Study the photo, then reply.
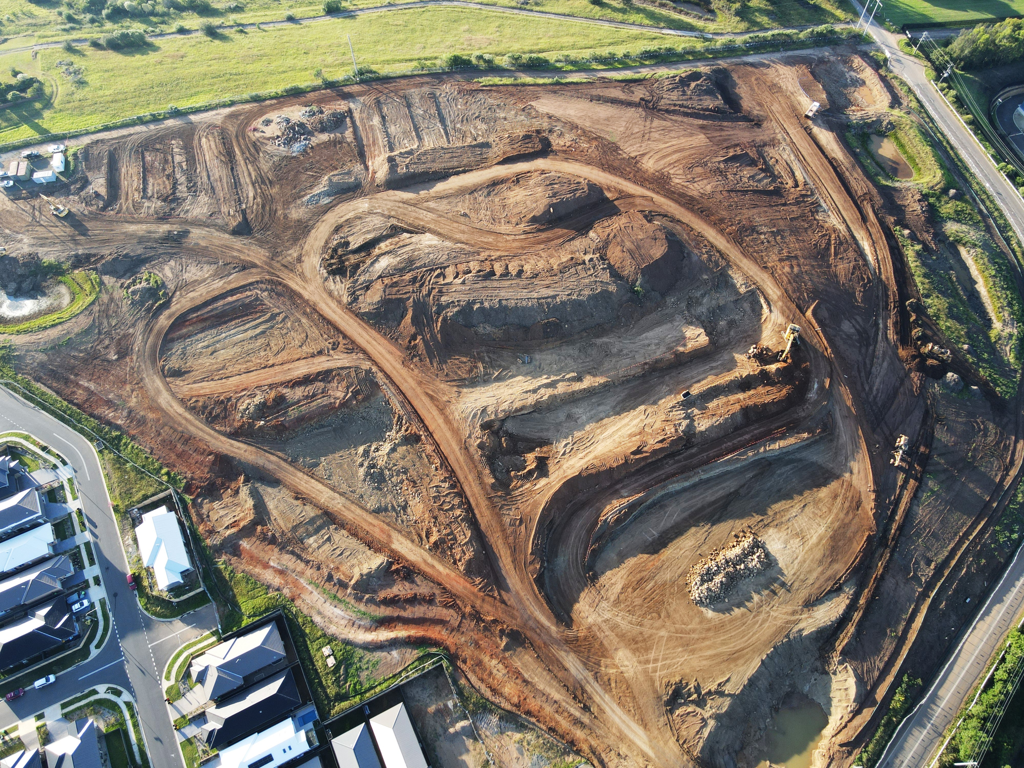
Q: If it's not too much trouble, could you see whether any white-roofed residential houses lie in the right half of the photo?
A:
No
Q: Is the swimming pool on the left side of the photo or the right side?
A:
left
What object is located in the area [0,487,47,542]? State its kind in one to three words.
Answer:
house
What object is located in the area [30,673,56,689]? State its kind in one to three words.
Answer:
car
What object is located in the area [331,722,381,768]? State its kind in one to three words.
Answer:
house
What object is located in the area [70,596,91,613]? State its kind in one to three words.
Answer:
car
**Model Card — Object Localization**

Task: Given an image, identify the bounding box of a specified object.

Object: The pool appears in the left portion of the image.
[293,706,318,735]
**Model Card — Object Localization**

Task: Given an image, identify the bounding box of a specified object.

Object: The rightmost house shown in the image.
[369,703,428,768]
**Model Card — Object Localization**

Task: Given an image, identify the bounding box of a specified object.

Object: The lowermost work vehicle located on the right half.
[892,435,910,468]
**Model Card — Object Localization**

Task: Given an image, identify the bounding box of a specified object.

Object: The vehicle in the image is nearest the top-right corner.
[806,96,821,117]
